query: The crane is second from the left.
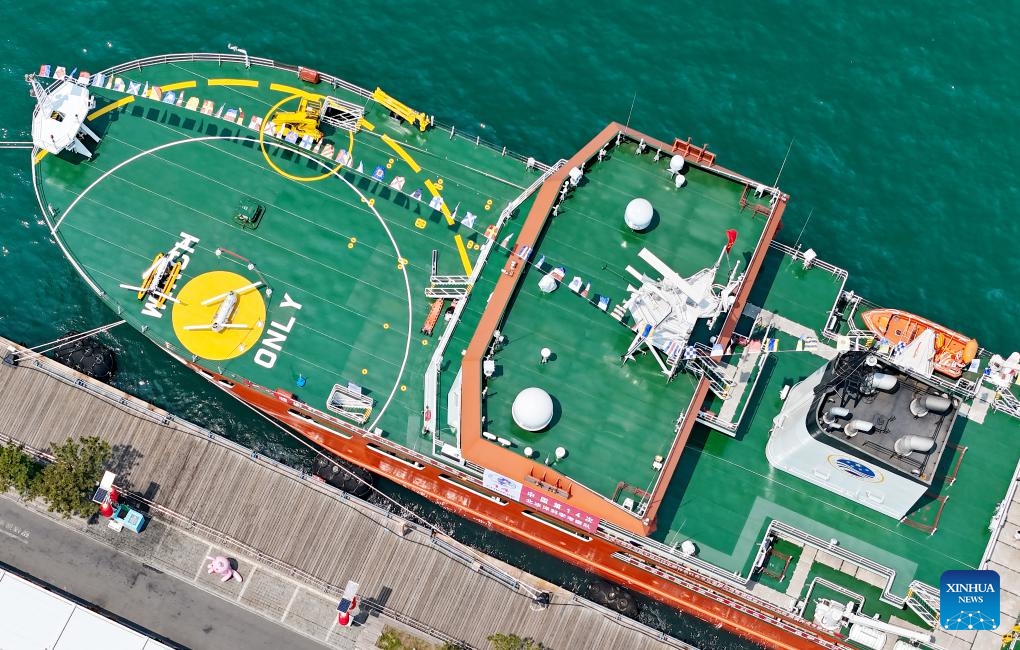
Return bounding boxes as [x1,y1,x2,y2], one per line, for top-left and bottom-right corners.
[368,85,431,133]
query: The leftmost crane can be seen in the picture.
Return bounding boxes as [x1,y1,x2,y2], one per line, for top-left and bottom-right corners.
[271,91,329,145]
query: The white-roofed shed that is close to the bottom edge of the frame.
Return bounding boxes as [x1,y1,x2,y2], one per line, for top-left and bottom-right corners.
[0,565,187,650]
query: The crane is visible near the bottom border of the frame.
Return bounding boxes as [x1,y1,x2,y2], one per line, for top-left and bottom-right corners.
[812,586,940,650]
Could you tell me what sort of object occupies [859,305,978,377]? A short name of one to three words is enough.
boat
